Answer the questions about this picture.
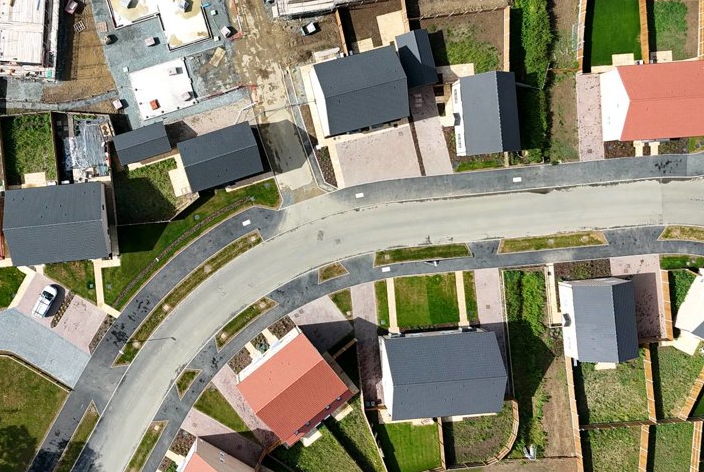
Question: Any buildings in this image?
Yes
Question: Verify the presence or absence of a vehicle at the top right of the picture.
No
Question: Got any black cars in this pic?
No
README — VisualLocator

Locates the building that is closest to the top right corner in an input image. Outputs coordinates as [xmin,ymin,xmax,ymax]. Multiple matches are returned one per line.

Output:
[600,60,704,142]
